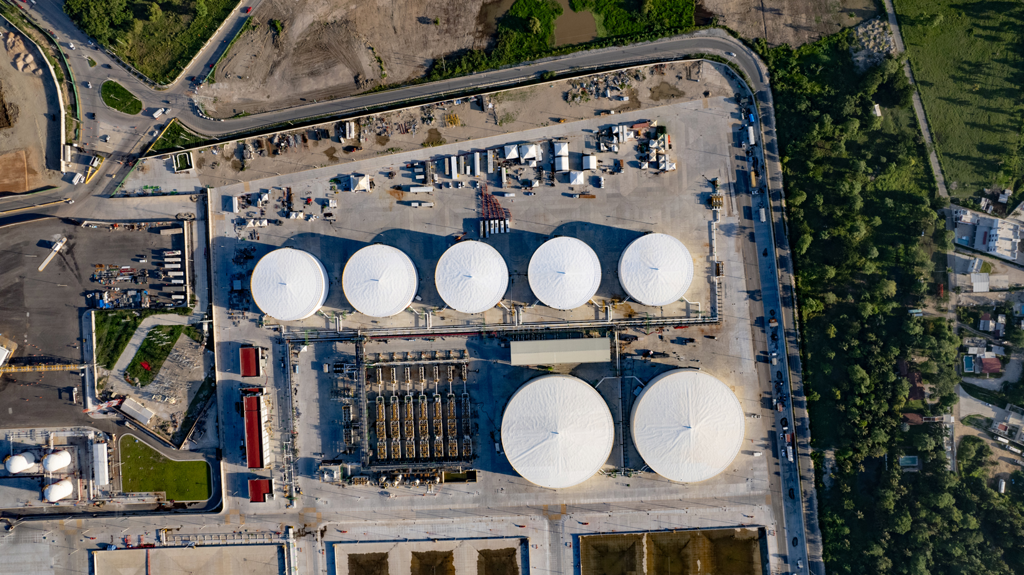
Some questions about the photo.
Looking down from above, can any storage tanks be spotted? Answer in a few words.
Yes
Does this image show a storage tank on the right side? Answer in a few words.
Yes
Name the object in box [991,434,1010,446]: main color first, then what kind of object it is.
white vehicle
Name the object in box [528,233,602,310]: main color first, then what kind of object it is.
white storage tank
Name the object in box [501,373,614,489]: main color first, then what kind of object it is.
white storage tank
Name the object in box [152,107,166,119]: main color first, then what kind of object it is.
white vehicle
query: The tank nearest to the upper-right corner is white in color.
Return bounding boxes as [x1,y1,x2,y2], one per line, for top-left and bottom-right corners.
[618,230,694,306]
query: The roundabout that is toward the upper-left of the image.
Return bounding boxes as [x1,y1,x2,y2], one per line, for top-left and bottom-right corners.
[98,77,145,116]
